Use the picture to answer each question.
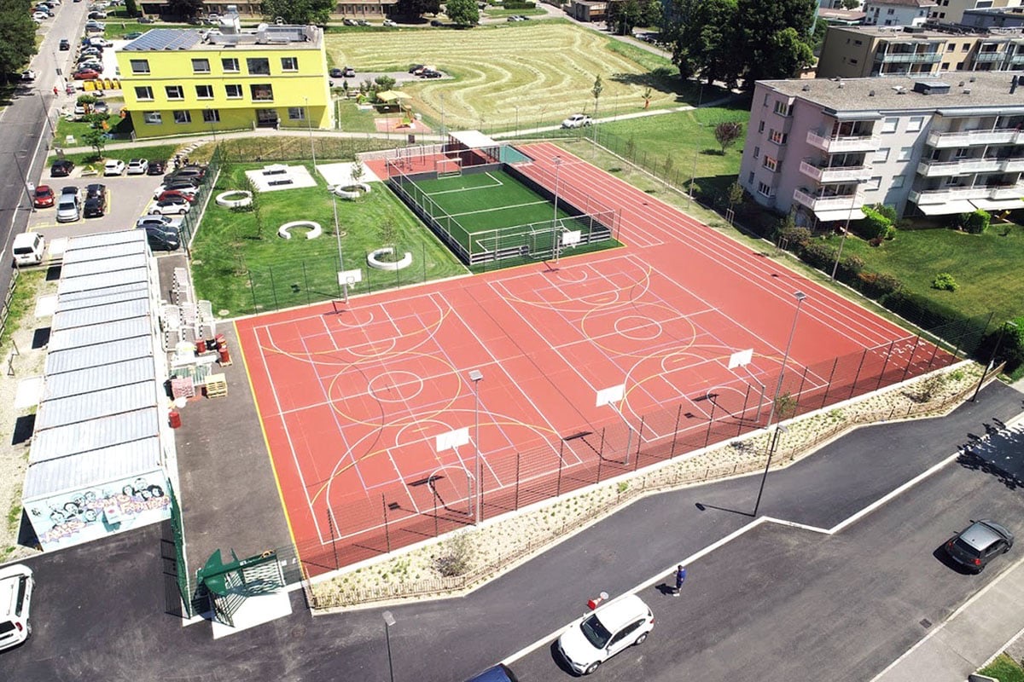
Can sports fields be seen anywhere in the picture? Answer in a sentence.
Yes, there is a sports field in the image.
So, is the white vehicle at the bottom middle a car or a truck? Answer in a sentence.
I'd say the white vehicle at the bottom middle is a car.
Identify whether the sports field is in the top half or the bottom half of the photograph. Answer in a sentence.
Seen from above, the sports field lies in the top half of the view.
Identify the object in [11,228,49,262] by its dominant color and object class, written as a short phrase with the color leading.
white van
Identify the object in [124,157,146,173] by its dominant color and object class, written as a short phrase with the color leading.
white car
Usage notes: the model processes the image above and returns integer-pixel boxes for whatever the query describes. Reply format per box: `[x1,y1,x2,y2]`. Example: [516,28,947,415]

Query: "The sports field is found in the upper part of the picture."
[386,165,627,274]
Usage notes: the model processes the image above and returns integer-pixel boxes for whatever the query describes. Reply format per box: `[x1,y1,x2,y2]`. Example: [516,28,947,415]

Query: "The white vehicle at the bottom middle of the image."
[550,588,654,678]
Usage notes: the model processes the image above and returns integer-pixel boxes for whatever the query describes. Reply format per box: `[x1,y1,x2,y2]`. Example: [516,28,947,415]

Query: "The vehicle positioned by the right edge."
[941,516,1013,573]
